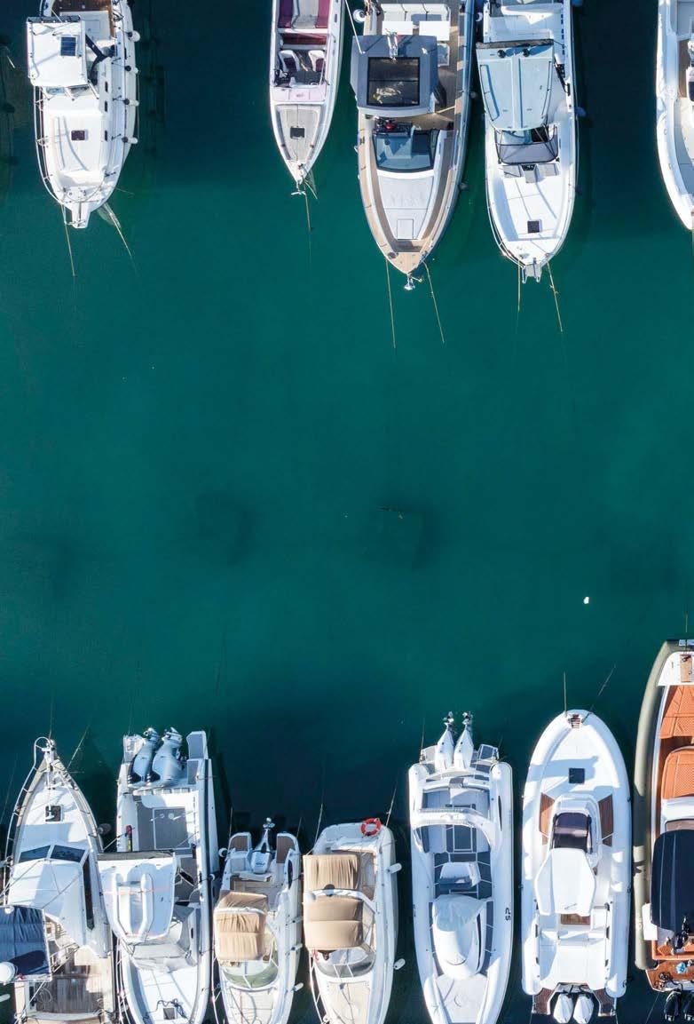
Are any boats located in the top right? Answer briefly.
Yes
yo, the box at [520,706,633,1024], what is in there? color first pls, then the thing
white boat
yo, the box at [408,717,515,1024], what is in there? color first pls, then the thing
white boat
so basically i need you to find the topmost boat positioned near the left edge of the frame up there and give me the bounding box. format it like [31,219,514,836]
[28,0,138,233]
